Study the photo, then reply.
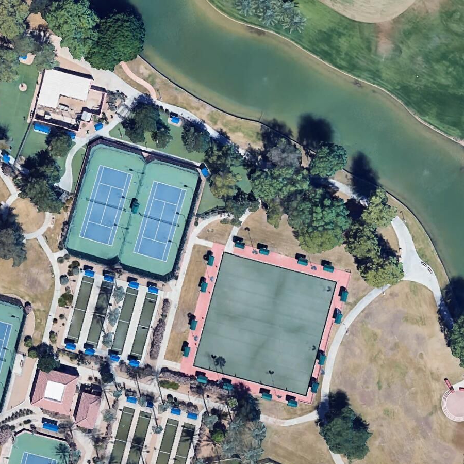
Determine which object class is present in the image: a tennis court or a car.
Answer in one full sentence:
This aerial view contains a tennis court.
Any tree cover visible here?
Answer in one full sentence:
Yes, some tree cover is visible.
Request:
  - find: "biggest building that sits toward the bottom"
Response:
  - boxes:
[31,369,79,416]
